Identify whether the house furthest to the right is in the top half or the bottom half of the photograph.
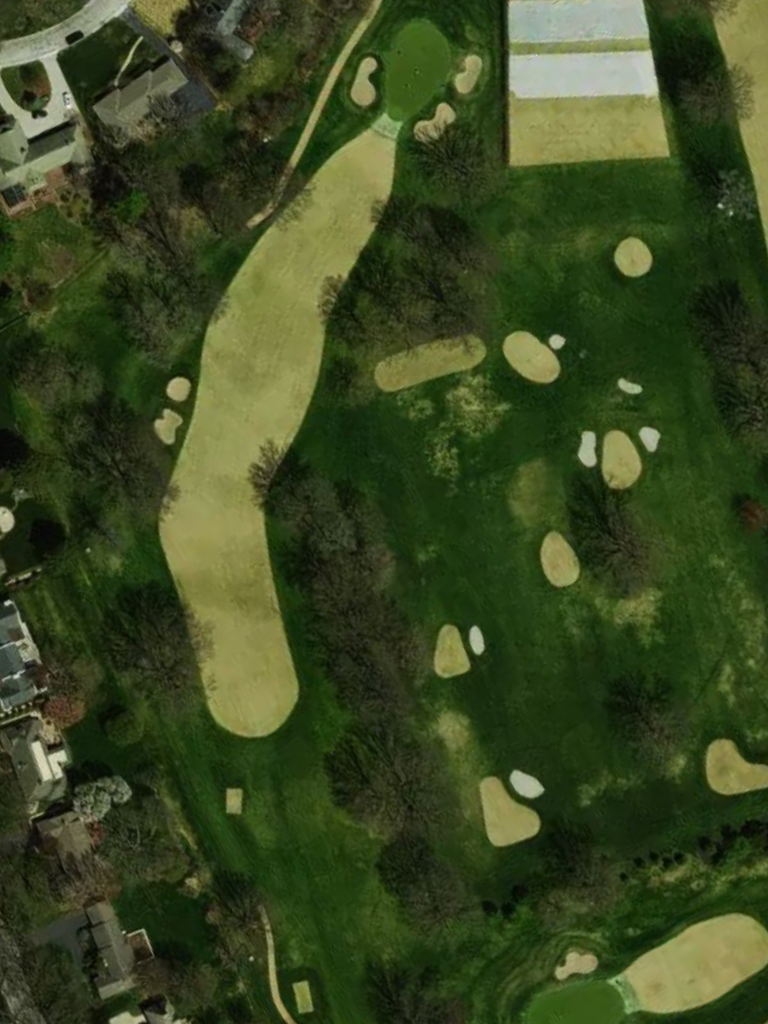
top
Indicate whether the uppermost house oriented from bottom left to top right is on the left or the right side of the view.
left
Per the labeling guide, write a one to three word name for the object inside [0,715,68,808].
house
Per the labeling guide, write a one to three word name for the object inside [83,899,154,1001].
house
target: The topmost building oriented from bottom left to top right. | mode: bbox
[89,54,188,139]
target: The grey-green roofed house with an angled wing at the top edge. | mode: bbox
[197,0,256,61]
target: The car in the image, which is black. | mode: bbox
[66,30,84,44]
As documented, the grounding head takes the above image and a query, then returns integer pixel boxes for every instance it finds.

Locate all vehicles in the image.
[63,92,72,109]
[66,30,84,44]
